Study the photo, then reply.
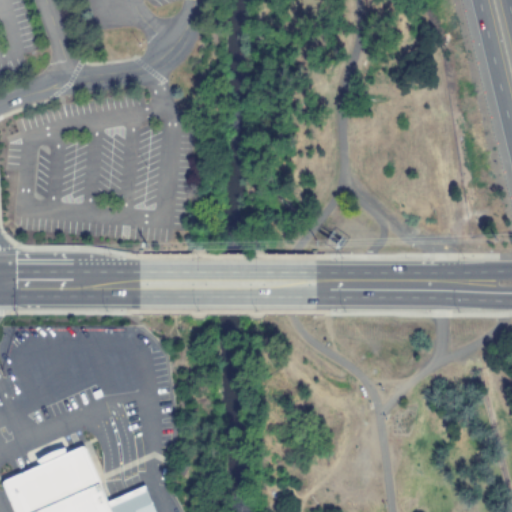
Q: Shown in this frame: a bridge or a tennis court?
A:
bridge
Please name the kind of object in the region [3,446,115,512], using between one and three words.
building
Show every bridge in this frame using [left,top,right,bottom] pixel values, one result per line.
[138,252,319,315]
